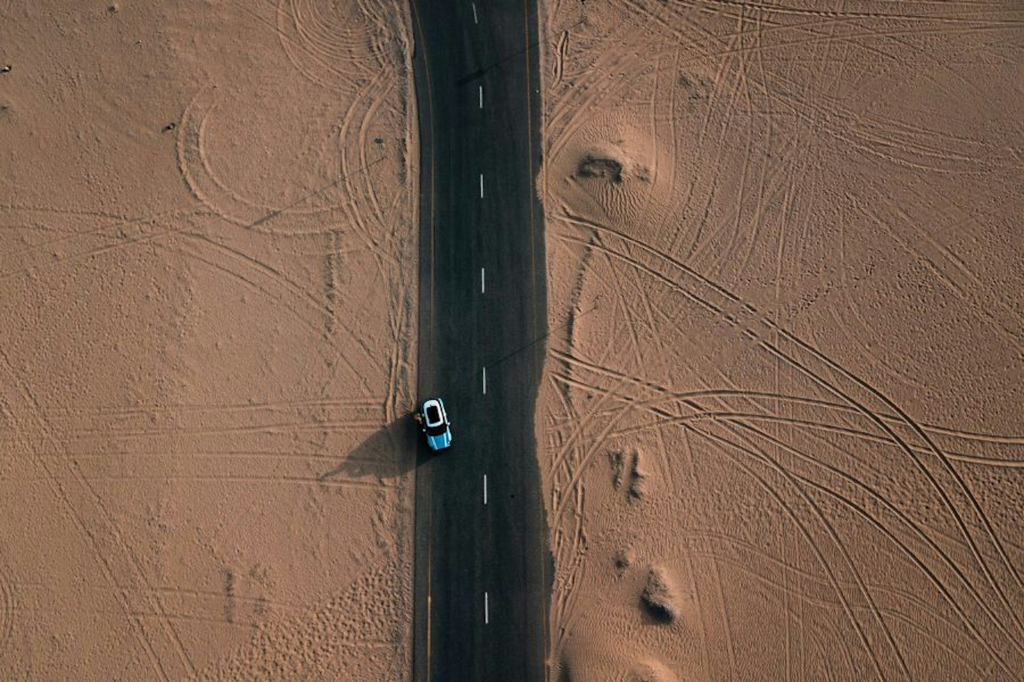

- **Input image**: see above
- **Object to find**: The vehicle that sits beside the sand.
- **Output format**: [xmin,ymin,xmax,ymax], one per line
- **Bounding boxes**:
[422,398,453,453]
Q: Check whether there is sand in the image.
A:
Yes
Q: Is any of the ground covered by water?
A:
No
